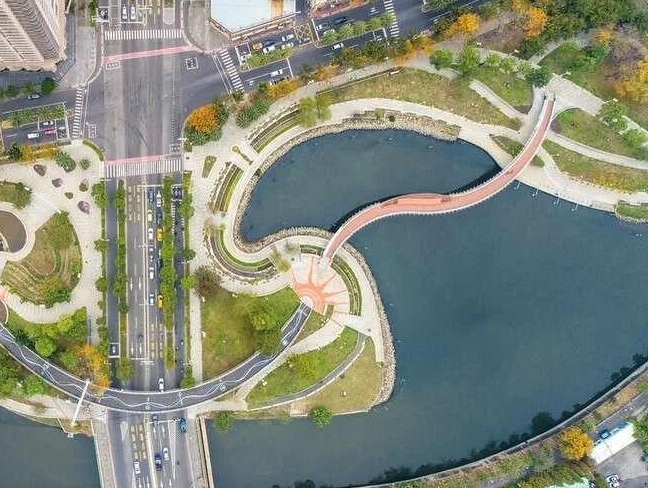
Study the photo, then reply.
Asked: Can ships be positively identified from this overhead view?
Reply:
No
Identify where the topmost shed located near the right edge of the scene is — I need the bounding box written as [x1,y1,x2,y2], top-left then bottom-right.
[587,419,635,466]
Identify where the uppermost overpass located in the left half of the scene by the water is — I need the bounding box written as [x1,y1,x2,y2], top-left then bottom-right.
[0,304,311,413]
